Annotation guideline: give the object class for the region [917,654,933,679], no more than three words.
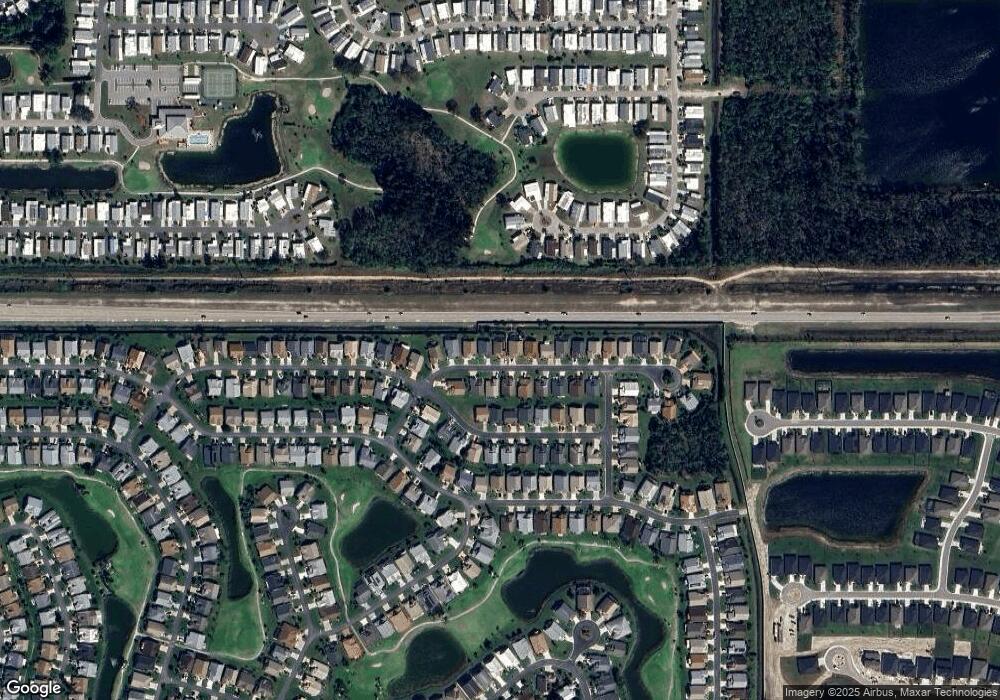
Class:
house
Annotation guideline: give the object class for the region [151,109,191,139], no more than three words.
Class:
building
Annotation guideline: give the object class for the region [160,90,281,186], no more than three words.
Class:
pond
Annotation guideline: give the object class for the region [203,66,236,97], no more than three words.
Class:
tennis court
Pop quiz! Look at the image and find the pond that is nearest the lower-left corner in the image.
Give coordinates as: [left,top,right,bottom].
[94,594,138,700]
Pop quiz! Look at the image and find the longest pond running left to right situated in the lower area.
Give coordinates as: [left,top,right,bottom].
[764,471,927,542]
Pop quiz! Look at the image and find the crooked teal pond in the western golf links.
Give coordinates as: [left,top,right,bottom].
[0,474,118,560]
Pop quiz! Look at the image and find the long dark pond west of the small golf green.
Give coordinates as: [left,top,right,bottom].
[0,163,118,192]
